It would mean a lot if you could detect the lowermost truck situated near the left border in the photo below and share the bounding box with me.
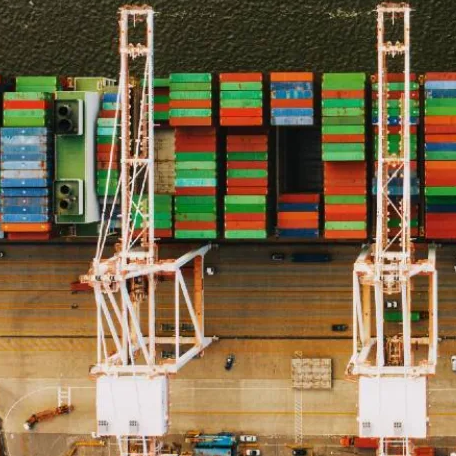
[20,403,73,432]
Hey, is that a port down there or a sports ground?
port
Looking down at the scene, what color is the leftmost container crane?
white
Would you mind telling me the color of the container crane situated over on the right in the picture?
white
